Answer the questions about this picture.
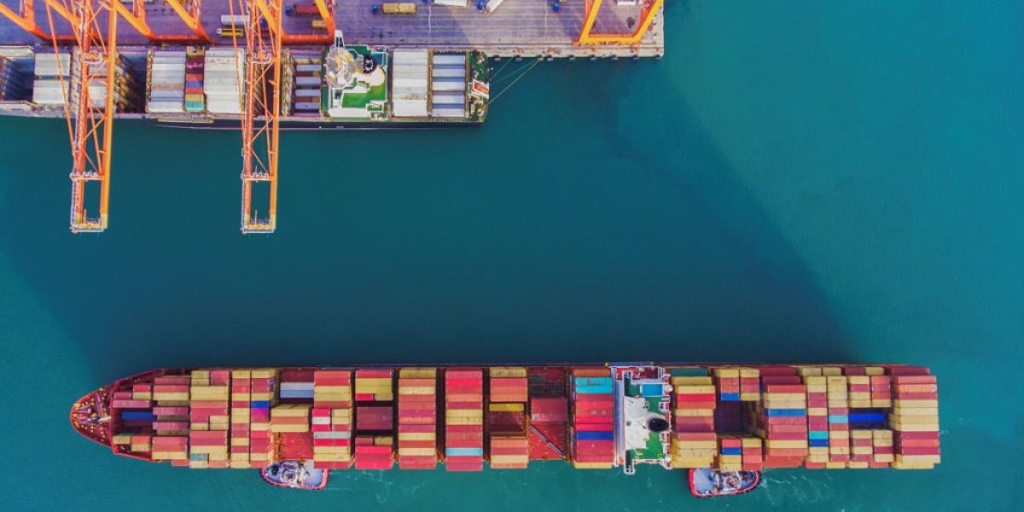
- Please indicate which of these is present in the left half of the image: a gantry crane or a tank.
gantry crane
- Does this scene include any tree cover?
No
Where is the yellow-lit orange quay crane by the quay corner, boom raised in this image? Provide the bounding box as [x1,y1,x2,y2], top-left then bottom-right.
[578,0,667,45]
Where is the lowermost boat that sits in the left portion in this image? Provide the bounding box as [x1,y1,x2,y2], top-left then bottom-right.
[260,461,331,489]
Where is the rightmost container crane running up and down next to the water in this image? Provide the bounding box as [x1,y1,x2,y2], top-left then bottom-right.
[221,0,334,235]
